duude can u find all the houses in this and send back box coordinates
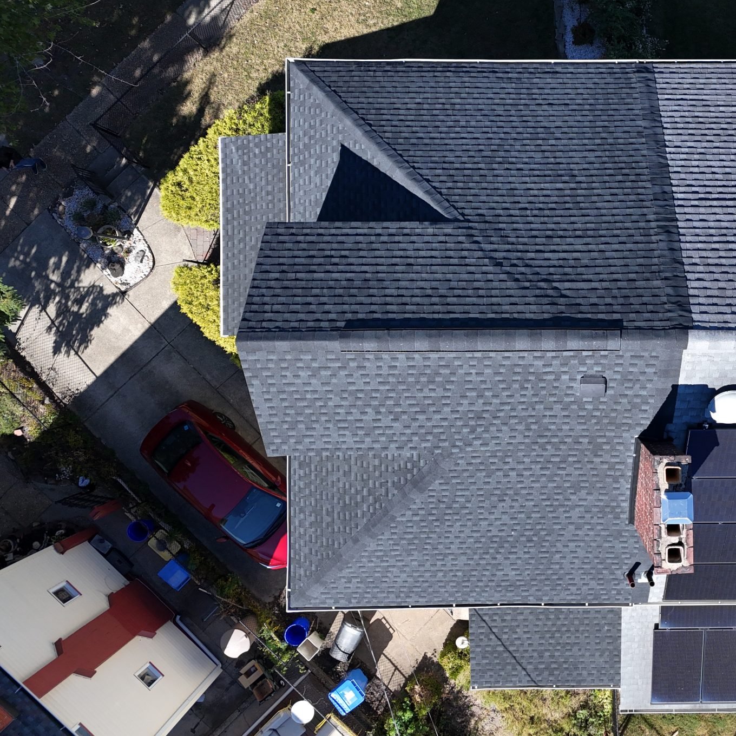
[223,56,736,712]
[0,546,222,736]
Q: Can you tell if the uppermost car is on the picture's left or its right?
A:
left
